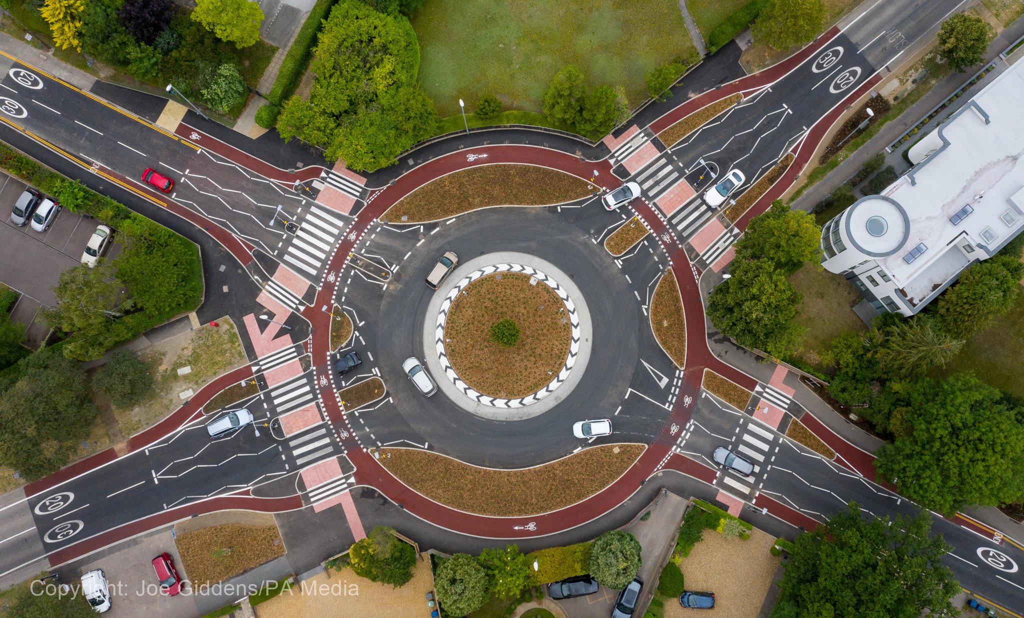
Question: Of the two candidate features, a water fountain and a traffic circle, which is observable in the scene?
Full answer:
The image shows a traffic circle.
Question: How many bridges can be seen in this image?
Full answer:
No bridges are visible.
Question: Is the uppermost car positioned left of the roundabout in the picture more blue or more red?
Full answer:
The uppermost car positioned left of the roundabout is red.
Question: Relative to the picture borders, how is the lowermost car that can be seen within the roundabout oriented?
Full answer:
The lowermost car that can be seen within the roundabout is laid out horizontally.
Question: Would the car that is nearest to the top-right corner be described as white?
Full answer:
Yes, white is the color of the car that is nearest to the top-right corner.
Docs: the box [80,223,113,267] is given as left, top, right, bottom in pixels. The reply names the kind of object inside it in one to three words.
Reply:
car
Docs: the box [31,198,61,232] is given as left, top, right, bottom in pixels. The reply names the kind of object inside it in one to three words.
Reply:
car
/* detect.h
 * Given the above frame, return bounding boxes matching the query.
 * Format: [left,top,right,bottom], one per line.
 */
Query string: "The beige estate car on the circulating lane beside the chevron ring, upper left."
[425,250,458,290]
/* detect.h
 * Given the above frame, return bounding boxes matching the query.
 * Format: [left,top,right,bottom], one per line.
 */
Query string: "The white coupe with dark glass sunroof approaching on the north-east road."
[703,166,749,207]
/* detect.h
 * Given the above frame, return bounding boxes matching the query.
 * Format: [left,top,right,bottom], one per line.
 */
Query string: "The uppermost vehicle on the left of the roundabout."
[140,168,175,193]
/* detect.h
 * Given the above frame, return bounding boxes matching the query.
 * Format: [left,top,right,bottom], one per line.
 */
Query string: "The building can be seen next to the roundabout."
[817,54,1024,318]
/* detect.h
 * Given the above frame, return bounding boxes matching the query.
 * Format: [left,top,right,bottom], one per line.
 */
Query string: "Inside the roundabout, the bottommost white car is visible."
[572,418,613,439]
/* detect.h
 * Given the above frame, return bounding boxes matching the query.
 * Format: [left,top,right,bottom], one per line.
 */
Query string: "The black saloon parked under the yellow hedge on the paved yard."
[547,577,600,603]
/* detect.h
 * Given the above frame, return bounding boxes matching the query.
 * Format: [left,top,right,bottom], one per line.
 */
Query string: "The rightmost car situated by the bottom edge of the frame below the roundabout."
[680,591,716,612]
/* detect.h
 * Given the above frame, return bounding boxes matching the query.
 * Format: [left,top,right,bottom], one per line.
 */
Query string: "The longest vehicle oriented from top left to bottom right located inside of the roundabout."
[404,356,439,398]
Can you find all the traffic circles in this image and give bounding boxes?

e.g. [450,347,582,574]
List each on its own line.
[301,145,720,539]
